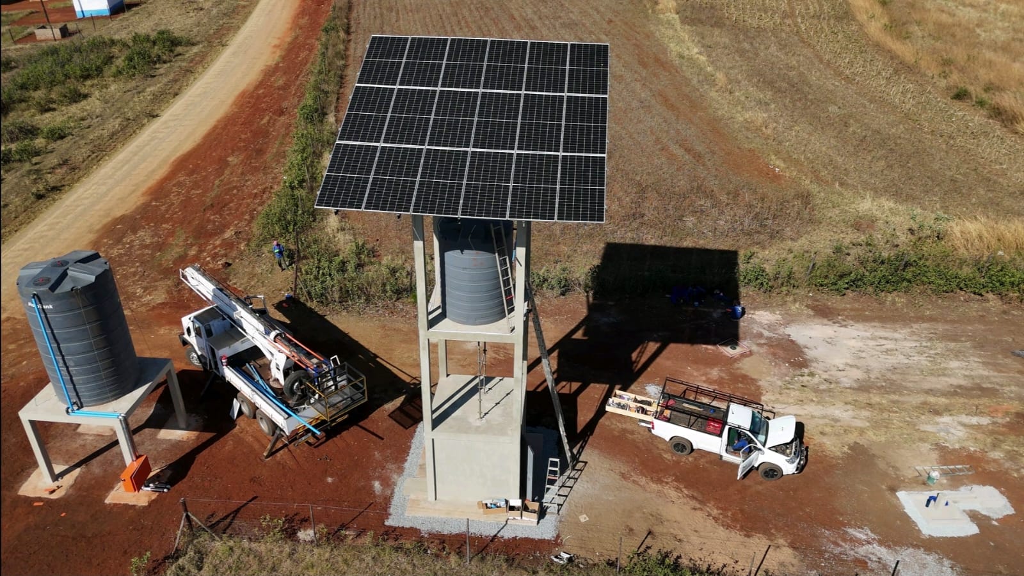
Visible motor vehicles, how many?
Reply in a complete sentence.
In total, there are 2 motor vehicles in the scene.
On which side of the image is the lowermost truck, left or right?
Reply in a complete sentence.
The lowermost truck appears in the right half of the scene.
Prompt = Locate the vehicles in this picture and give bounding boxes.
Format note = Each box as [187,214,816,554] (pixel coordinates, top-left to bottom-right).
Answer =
[178,261,354,461]
[606,378,807,483]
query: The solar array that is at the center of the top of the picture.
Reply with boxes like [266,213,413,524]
[316,36,611,229]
